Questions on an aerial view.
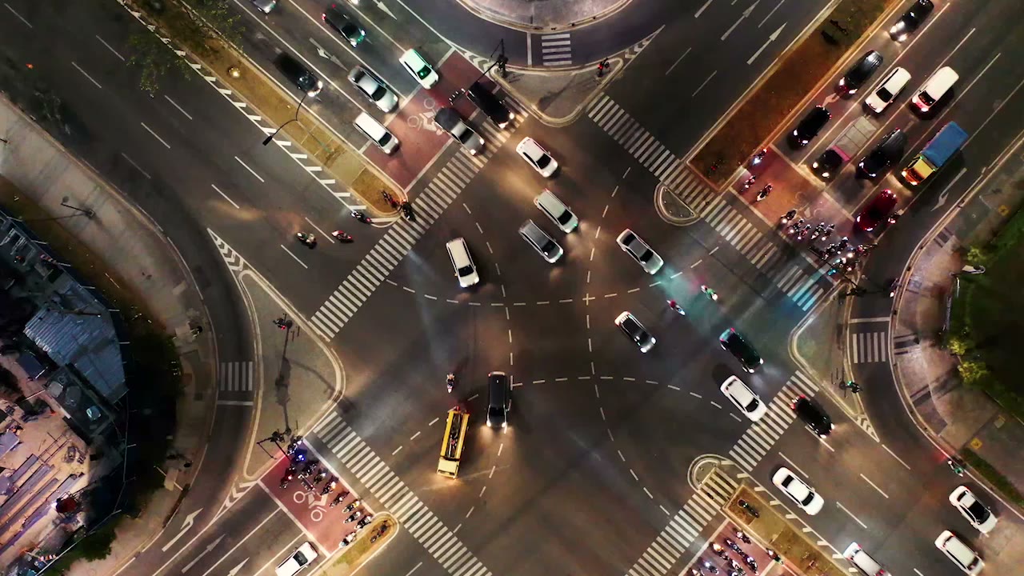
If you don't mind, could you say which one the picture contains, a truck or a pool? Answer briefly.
truck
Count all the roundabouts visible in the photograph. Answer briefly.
0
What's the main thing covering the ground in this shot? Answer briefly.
paved ground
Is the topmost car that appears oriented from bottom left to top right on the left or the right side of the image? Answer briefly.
right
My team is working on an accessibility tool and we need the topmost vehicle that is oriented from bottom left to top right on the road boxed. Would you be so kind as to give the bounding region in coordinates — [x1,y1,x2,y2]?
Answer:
[887,0,935,42]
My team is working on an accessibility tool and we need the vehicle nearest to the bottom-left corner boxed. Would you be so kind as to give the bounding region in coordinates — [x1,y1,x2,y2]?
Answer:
[53,489,103,518]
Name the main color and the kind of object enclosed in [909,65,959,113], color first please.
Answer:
white car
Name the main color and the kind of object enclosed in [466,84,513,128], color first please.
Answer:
black car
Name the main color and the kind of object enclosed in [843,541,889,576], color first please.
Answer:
white car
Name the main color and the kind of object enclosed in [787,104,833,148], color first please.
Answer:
black car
